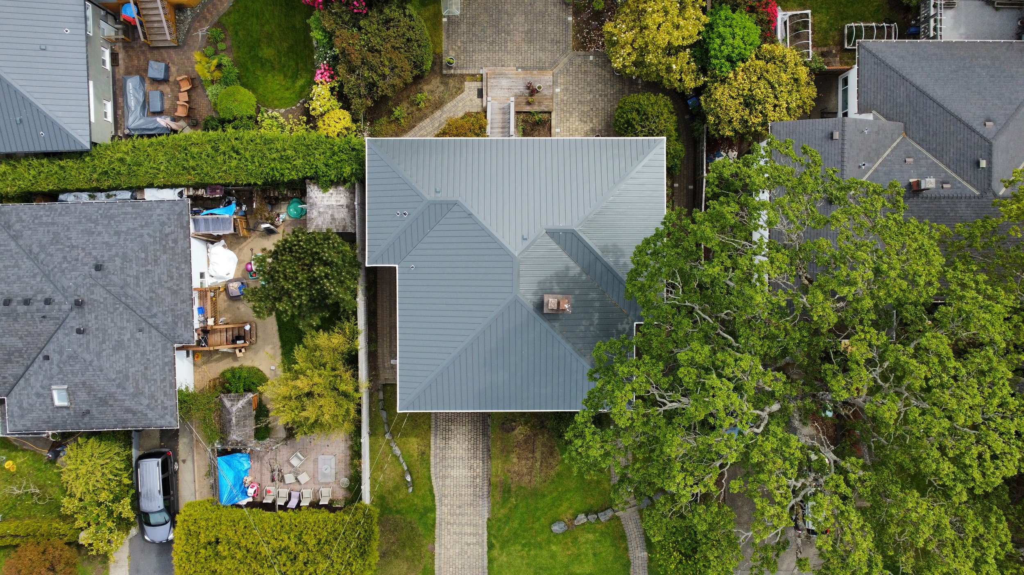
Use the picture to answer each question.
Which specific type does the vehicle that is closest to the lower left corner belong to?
automobile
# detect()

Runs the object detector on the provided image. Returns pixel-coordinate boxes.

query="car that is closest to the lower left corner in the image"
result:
[134,446,184,544]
